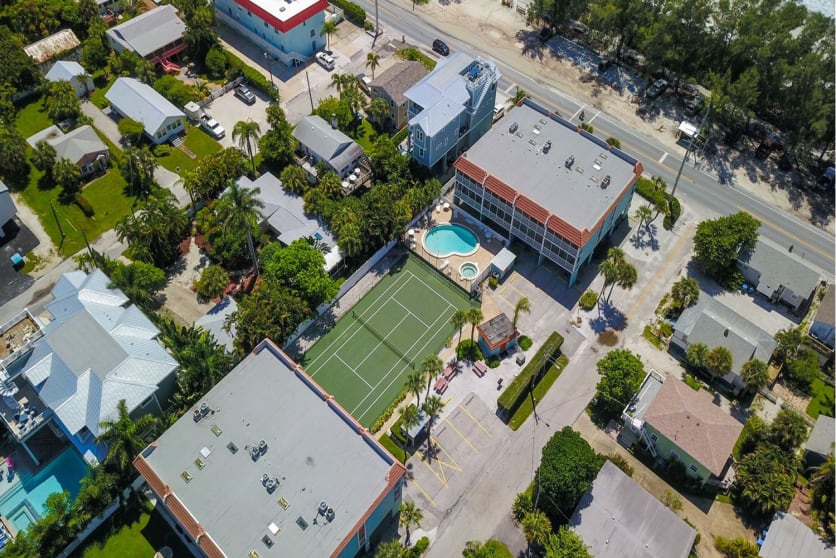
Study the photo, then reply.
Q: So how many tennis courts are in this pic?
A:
1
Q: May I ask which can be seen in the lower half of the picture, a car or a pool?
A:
pool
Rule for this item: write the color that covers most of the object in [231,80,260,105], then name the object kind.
gray truck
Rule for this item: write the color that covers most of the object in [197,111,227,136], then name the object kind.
white truck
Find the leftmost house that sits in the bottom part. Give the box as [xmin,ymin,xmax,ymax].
[0,266,193,473]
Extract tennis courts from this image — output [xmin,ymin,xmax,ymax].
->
[294,250,482,430]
